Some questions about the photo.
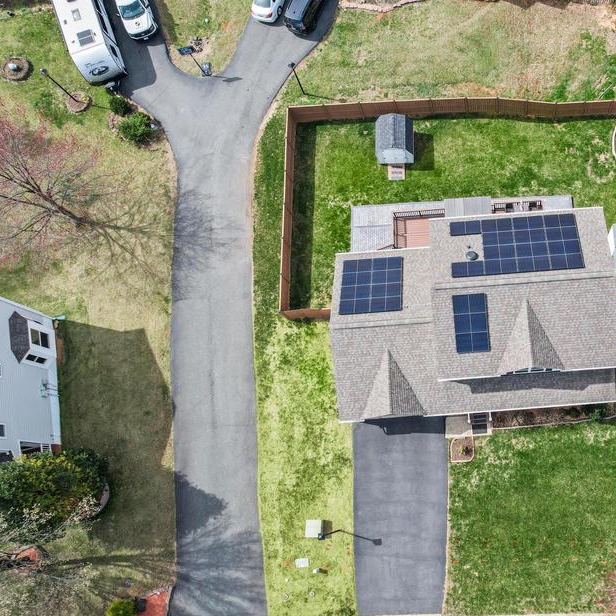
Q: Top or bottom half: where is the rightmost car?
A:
top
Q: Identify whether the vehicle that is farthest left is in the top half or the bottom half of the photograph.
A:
top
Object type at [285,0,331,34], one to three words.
car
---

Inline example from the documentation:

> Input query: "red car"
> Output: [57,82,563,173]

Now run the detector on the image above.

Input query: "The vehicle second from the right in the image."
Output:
[252,0,290,25]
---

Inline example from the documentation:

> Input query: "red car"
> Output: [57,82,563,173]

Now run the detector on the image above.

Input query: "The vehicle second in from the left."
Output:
[116,0,161,43]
